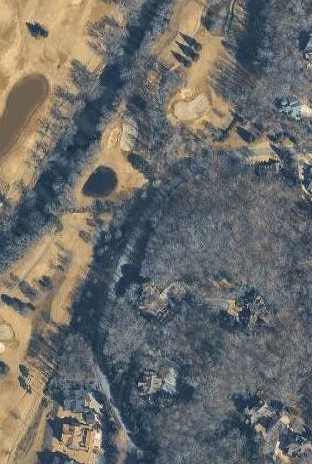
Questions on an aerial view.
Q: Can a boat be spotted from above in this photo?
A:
No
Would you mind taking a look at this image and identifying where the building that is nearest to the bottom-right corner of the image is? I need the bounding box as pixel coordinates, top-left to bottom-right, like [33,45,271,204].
[279,427,312,458]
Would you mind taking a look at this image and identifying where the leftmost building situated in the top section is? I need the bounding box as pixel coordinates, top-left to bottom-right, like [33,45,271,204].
[253,161,283,177]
